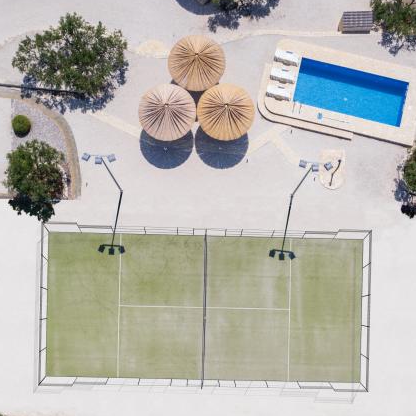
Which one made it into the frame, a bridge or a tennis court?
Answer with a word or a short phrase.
tennis court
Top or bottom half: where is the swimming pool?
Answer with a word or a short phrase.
top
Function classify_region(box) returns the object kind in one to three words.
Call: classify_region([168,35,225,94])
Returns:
umbrella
